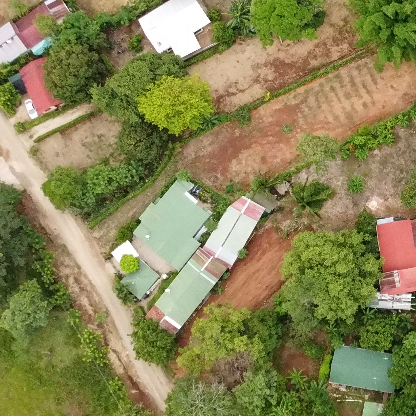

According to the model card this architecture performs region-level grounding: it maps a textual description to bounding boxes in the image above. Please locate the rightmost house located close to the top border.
[138,0,211,57]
